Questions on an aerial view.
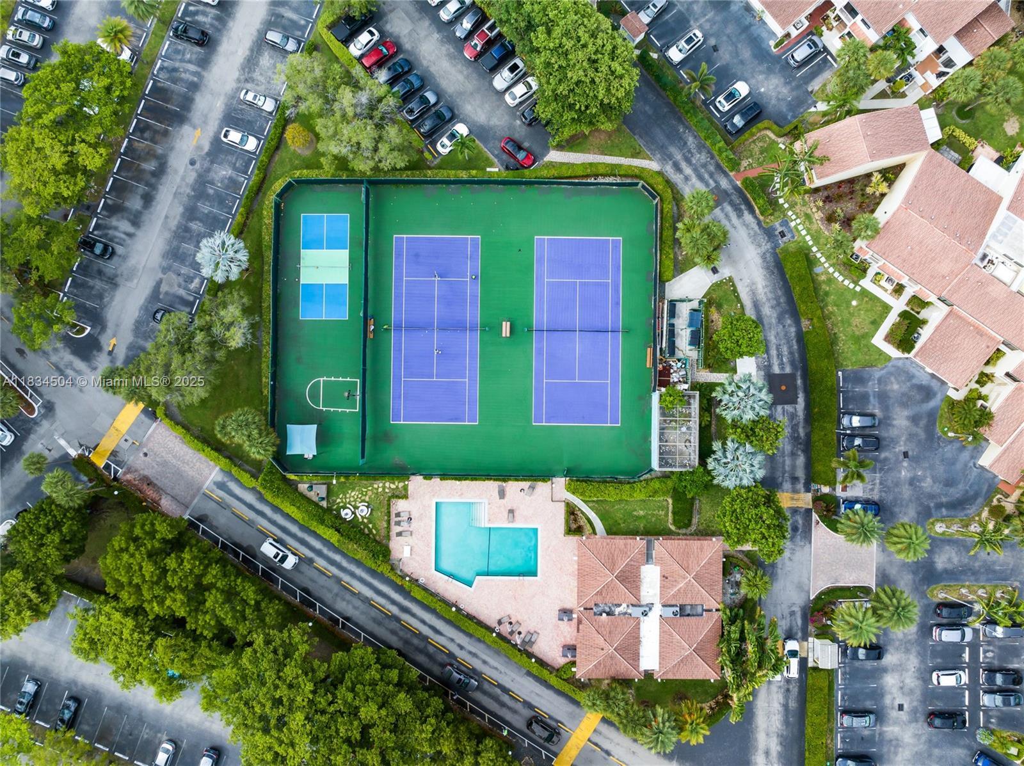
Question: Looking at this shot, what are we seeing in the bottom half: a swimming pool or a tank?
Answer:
swimming pool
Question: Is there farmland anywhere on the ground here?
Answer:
No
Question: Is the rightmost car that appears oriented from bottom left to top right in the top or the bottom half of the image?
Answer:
top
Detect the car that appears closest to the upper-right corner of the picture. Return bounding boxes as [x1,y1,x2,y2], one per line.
[785,34,826,69]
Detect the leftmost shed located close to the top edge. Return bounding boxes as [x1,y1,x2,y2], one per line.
[619,11,648,46]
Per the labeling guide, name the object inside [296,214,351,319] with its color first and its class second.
blue sports court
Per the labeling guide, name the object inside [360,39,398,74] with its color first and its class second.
red car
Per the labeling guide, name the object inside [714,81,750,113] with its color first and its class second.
white car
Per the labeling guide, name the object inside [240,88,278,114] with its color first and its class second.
white car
